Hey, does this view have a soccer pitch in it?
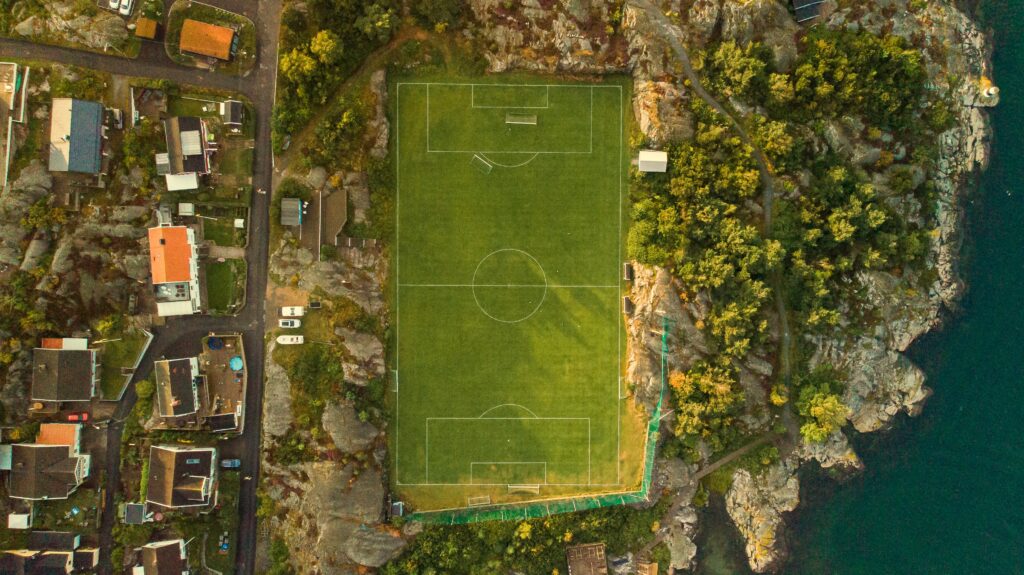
Yes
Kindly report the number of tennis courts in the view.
zero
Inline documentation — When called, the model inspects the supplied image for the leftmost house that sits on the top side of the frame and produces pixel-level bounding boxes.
[49,96,110,176]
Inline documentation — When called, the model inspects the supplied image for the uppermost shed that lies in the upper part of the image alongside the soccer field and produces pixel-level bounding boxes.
[637,151,668,173]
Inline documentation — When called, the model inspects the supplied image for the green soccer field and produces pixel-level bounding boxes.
[386,74,648,513]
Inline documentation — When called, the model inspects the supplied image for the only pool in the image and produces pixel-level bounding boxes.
[227,356,244,371]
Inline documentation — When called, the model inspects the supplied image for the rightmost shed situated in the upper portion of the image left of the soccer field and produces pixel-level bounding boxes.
[281,198,304,225]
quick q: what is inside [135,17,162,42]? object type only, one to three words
shed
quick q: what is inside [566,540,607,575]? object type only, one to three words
building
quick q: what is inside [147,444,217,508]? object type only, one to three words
house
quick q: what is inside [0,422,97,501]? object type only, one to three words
house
